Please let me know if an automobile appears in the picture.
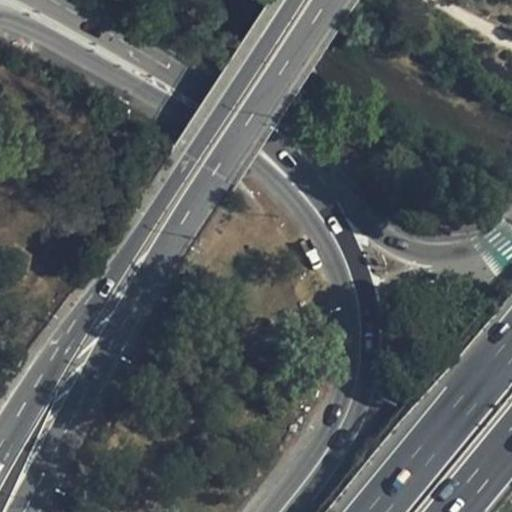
Yes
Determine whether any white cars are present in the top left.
No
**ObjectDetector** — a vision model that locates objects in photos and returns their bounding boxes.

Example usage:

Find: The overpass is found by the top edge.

[174,0,357,192]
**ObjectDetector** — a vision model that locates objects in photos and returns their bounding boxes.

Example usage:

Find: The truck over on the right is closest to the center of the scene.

[300,238,322,270]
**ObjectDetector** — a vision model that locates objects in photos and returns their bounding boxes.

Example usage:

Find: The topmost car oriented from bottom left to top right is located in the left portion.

[99,277,116,297]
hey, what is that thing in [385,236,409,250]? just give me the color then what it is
gray car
